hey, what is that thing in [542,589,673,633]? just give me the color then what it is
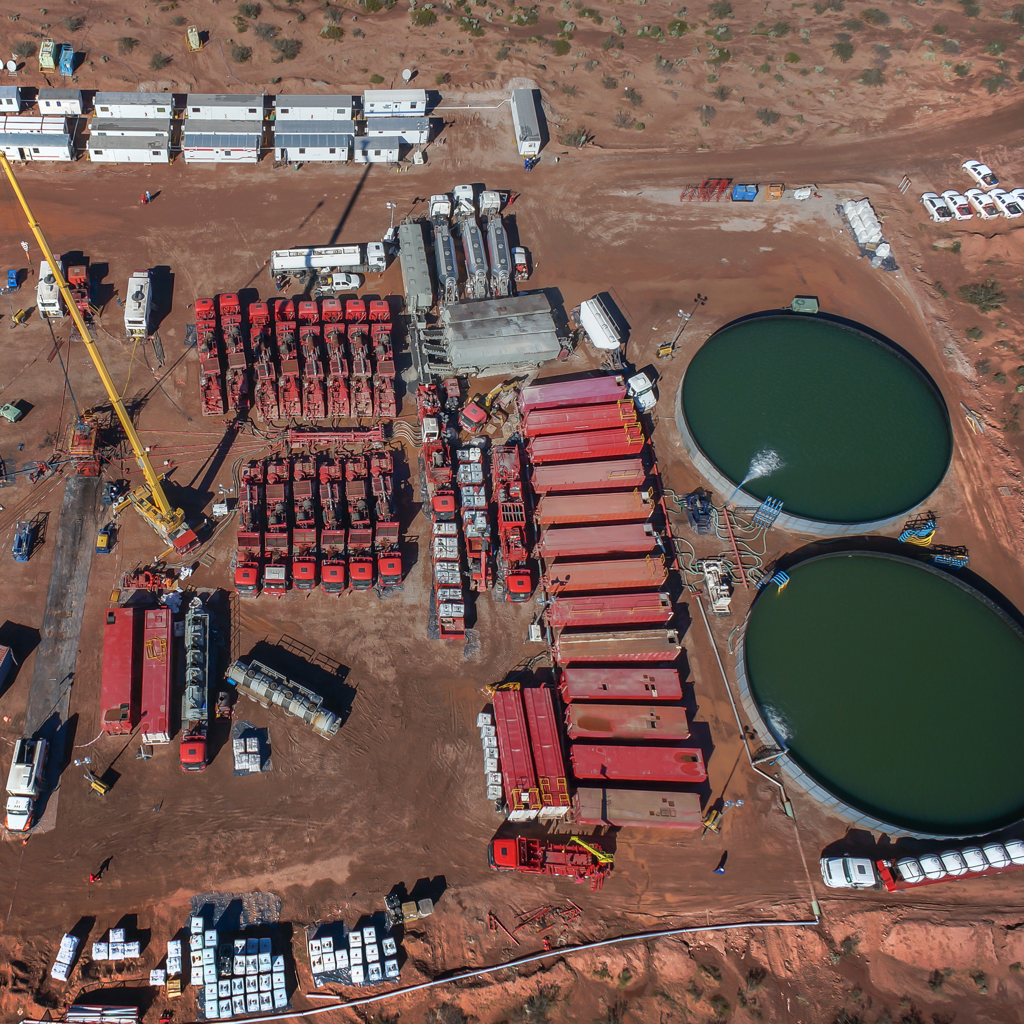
red storage tank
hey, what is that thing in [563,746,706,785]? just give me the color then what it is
red storage tank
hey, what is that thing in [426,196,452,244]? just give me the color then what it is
white truck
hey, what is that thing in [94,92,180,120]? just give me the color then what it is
white trailer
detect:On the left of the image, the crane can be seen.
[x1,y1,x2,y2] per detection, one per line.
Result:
[0,145,210,566]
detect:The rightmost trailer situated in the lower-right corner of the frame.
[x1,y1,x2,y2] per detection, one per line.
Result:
[879,841,1024,890]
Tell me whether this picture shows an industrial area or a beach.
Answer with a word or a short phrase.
industrial area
